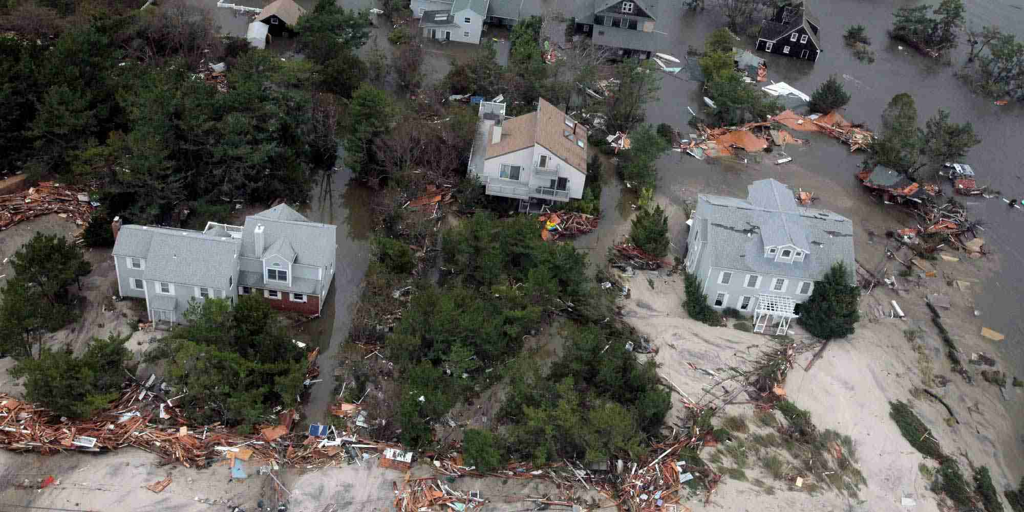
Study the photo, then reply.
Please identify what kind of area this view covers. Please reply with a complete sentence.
What you see here is a residential area.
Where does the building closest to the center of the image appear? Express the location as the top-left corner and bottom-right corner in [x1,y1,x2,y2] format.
[468,96,590,222]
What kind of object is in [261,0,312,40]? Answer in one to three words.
house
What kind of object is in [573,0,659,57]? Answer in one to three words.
house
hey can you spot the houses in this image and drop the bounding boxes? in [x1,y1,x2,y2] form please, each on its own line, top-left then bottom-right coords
[468,96,590,222]
[108,191,340,334]
[573,0,659,57]
[414,0,548,43]
[756,2,821,61]
[687,176,860,333]
[261,0,312,40]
